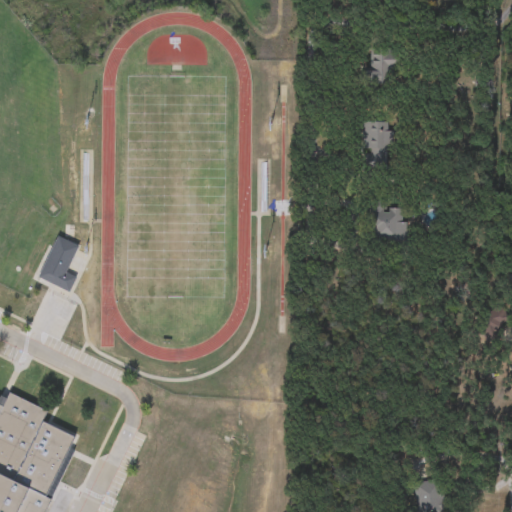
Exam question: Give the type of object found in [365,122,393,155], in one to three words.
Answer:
house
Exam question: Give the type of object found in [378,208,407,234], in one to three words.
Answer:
house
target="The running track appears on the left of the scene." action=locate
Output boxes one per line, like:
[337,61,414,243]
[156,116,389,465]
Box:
[101,12,251,361]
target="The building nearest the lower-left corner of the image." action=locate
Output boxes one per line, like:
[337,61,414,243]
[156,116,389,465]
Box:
[0,387,81,512]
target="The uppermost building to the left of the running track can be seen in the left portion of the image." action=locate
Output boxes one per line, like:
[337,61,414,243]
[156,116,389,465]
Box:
[40,236,79,292]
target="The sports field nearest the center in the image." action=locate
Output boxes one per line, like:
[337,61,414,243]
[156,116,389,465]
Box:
[128,76,226,297]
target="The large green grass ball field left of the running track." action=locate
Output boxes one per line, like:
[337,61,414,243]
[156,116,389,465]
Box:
[0,0,64,296]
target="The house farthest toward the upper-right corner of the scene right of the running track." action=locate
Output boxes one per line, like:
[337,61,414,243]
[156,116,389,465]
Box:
[371,55,396,81]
